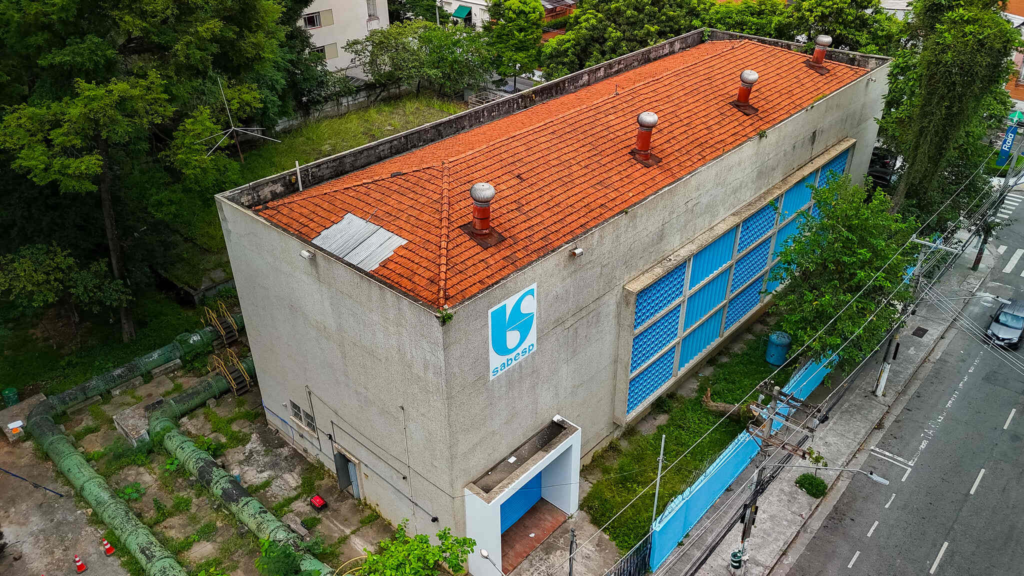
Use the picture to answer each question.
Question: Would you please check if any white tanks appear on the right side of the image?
No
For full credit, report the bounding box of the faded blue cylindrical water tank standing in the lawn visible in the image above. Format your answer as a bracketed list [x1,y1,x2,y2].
[766,326,795,368]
